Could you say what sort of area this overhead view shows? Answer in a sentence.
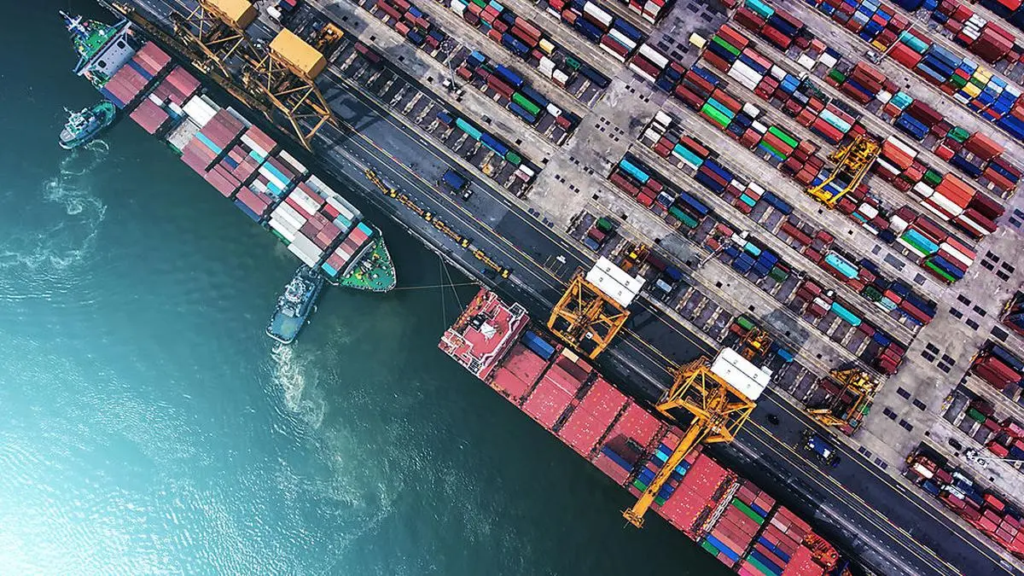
It's a port.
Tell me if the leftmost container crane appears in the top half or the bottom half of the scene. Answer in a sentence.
The leftmost container crane is in the top half of the image.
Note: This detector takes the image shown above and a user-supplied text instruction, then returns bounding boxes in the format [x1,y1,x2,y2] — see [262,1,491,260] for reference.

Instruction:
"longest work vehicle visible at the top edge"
[310,11,344,41]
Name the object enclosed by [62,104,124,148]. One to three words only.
boat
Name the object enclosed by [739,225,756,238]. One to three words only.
vehicle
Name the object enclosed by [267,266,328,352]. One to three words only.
boat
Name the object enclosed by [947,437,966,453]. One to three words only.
car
